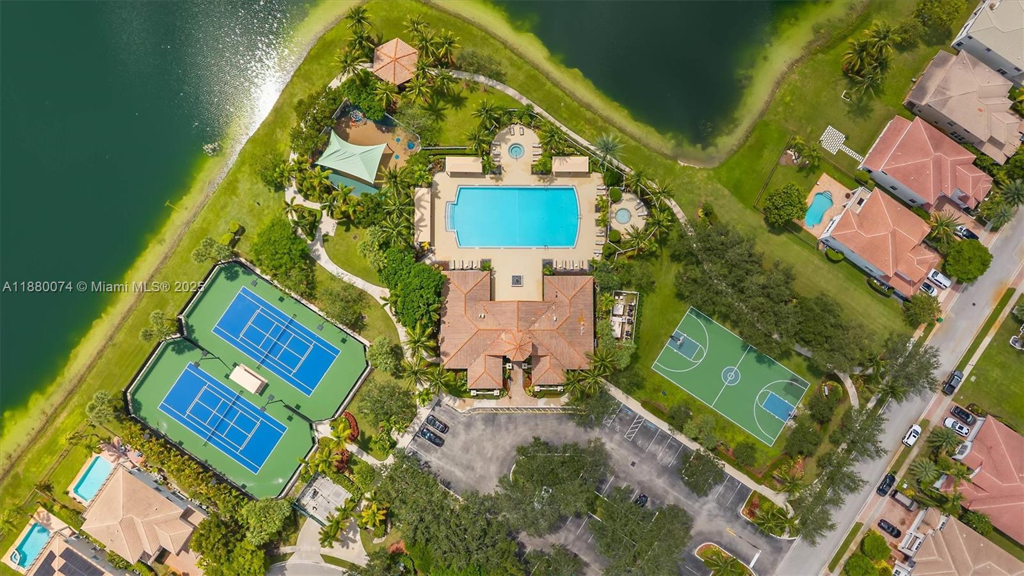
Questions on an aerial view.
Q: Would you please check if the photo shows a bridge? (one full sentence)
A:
No, no bridge is visible in the view.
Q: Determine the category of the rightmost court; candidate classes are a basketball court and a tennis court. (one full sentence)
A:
Looking closely, the rightmost court is a basketball court.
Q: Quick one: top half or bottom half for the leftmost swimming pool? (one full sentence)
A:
Seen from above, the leftmost swimming pool lies in the bottom half of the view.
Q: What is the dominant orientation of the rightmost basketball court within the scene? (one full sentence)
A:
I'd say the rightmost basketball court is aligned diagonally in the picture.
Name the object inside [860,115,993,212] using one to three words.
house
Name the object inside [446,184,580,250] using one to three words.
swimming pool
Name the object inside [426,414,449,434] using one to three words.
car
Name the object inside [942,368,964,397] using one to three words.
vehicle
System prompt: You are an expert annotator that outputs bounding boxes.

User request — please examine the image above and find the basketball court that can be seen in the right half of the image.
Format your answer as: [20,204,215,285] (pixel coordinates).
[651,306,810,447]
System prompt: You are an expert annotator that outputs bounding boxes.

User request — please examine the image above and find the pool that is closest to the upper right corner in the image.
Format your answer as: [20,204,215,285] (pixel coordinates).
[805,190,834,229]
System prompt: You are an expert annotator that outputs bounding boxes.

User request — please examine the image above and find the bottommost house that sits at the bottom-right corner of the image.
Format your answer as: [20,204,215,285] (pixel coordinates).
[890,504,1024,576]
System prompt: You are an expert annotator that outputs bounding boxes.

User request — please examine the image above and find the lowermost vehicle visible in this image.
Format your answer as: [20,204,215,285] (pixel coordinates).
[877,518,901,539]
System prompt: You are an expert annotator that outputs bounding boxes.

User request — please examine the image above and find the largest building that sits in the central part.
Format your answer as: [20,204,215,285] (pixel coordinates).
[442,271,594,389]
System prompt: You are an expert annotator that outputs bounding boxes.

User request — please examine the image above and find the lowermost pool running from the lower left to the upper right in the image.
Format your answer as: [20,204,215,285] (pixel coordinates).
[8,522,51,570]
